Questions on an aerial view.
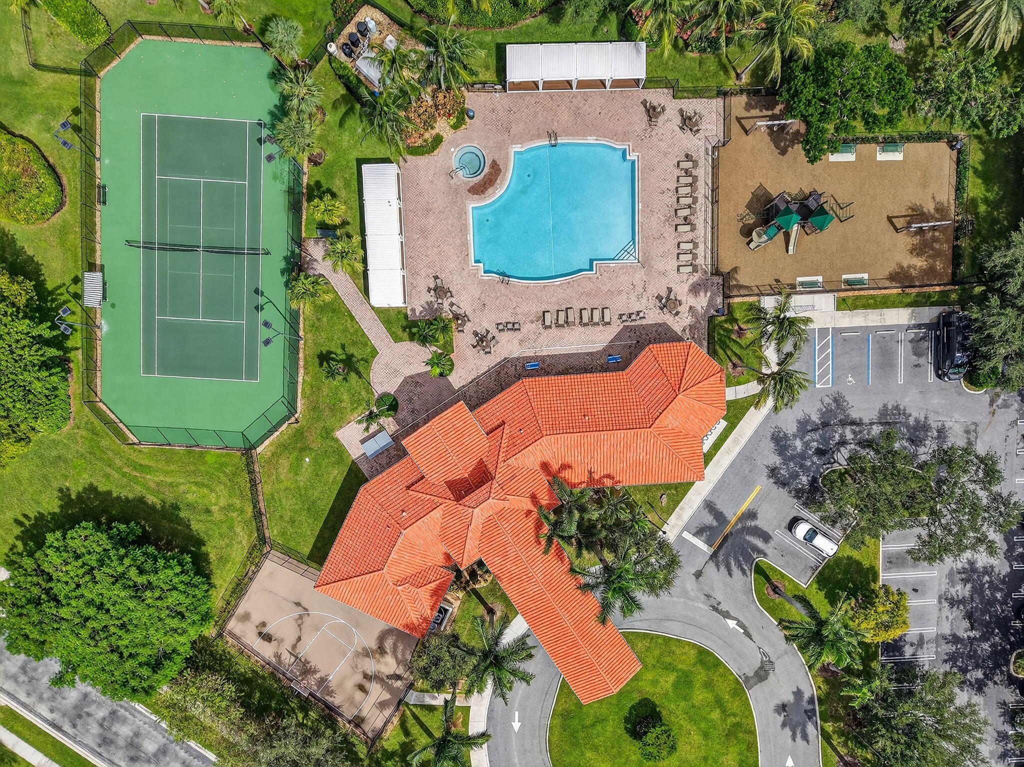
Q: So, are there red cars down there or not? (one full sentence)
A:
No, the photo shows no red car.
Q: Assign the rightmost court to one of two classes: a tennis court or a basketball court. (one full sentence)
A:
The rightmost court is a basketball court.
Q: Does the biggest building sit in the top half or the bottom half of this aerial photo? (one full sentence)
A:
The biggest building is in the bottom half of the image.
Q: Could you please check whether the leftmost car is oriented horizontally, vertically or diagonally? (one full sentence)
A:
Seen from above, the leftmost car lies diagonally.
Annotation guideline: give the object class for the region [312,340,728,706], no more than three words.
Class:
building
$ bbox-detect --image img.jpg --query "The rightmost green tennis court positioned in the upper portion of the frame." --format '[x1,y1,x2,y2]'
[100,40,304,447]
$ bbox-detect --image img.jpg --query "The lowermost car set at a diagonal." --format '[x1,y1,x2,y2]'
[793,518,848,564]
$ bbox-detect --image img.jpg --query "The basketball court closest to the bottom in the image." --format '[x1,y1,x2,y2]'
[227,553,423,741]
